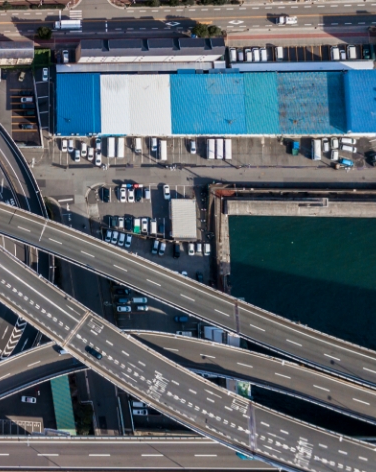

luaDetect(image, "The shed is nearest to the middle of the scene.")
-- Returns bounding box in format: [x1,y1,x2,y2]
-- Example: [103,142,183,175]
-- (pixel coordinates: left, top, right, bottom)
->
[168,199,197,238]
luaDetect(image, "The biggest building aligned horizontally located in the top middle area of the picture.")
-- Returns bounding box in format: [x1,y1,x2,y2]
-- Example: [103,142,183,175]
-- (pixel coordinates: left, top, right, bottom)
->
[53,66,343,144]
